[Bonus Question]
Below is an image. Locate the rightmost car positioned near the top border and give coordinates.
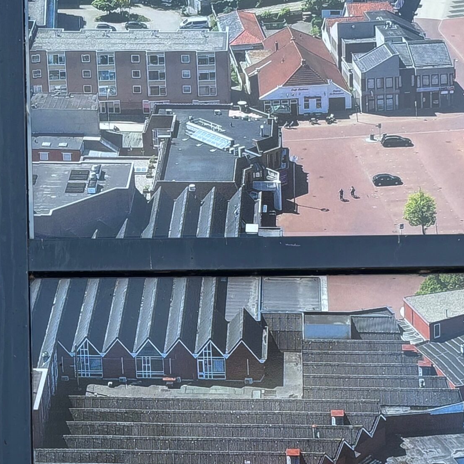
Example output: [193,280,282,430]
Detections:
[179,16,212,30]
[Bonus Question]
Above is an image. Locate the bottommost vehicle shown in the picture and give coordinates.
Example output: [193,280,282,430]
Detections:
[373,171,403,185]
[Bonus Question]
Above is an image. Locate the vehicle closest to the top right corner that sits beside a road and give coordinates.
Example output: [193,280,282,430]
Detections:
[380,132,414,146]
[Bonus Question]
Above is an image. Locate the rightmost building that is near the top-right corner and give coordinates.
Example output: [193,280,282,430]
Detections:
[407,38,455,110]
